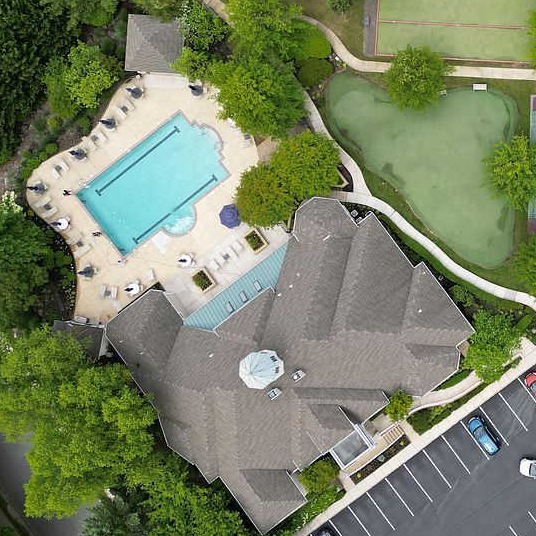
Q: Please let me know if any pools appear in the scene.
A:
Yes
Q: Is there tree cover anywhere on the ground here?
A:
Yes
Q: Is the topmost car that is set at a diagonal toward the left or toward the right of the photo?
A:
right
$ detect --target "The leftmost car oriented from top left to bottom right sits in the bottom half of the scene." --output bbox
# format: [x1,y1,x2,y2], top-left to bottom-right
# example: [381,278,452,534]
[466,412,503,455]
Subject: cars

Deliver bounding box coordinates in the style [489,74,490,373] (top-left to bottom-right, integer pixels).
[523,370,536,397]
[466,412,503,455]
[518,455,536,479]
[313,527,335,536]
